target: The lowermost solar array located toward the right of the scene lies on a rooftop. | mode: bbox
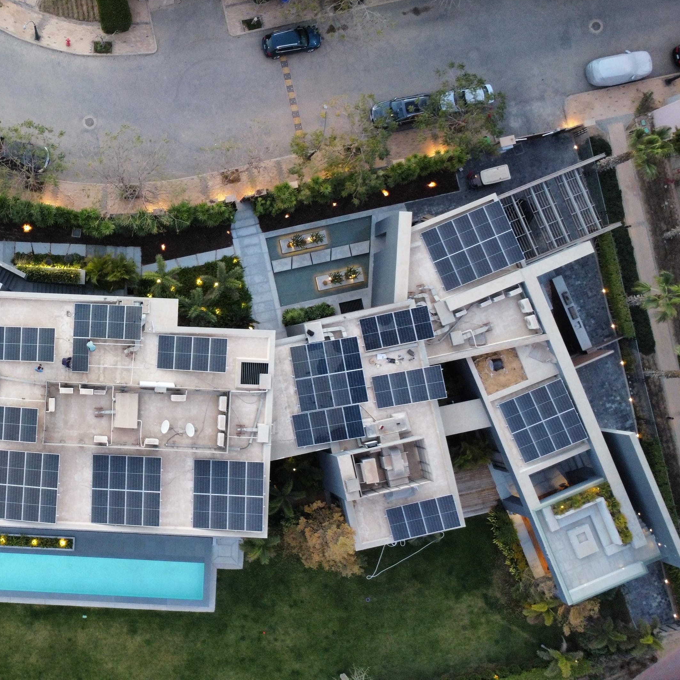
[385,494,460,541]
